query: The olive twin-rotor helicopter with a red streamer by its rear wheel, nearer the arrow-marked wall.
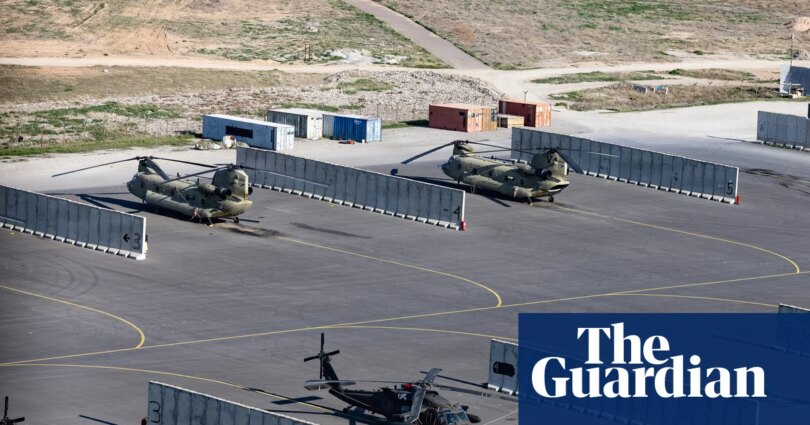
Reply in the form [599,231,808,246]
[52,157,330,224]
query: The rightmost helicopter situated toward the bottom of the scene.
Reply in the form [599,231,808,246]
[301,334,547,425]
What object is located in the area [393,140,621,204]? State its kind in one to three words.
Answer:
helicopter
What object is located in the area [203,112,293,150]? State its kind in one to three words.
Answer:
shipping container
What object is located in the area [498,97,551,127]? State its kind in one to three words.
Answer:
shipping container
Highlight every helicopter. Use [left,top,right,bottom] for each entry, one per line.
[301,334,547,425]
[393,140,621,204]
[52,157,330,224]
[0,394,24,425]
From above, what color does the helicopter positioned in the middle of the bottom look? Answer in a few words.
black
